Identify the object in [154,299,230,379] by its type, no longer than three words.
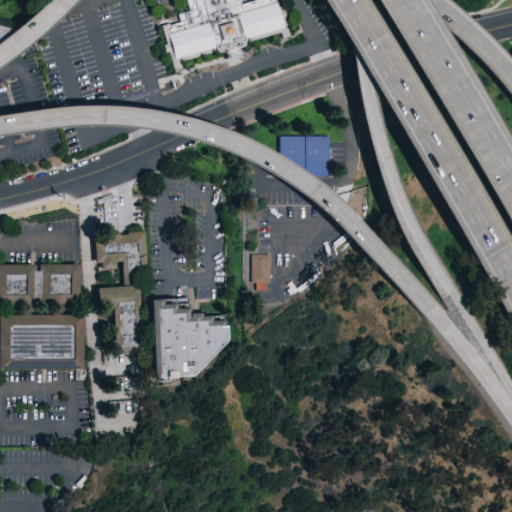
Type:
building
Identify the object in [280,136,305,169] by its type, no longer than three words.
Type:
shed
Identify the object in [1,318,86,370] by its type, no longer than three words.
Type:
building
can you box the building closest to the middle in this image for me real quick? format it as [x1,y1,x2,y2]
[250,253,273,292]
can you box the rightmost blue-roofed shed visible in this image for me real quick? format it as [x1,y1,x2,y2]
[306,136,330,176]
